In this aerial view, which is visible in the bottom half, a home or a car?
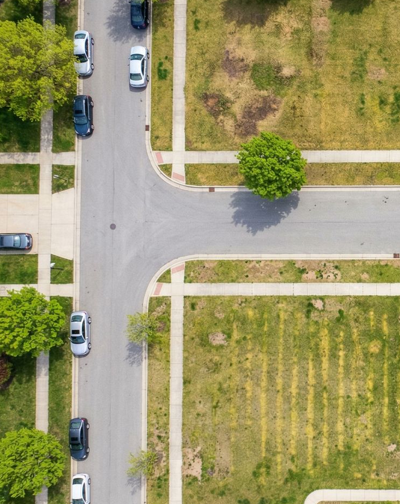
car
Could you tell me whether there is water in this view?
No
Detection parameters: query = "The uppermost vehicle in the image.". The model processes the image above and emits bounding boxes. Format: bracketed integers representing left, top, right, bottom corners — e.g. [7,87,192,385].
[130,0,153,34]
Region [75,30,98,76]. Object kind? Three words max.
car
